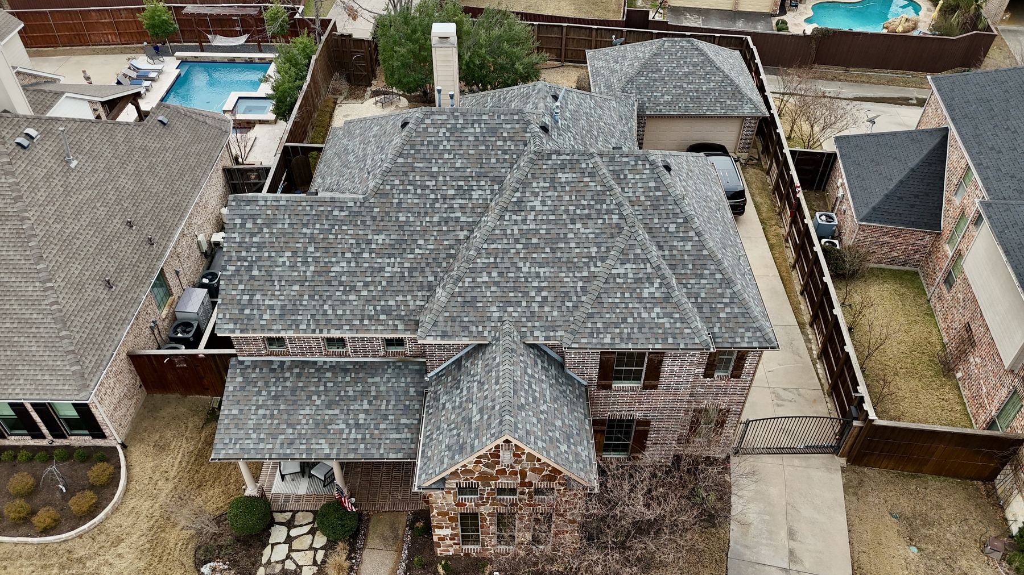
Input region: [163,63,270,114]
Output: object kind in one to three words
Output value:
swimming pool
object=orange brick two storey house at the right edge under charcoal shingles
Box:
[831,67,1024,509]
